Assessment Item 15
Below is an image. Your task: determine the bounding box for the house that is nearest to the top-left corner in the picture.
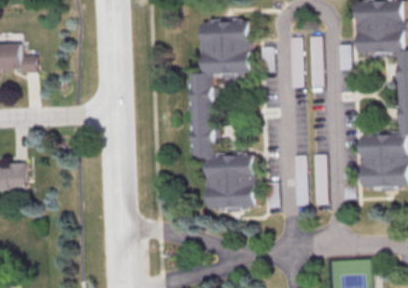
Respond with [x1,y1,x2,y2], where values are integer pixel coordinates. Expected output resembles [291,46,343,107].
[0,32,42,72]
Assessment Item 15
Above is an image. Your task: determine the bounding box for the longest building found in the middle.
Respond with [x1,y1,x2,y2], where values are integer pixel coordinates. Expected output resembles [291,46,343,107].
[188,14,262,214]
